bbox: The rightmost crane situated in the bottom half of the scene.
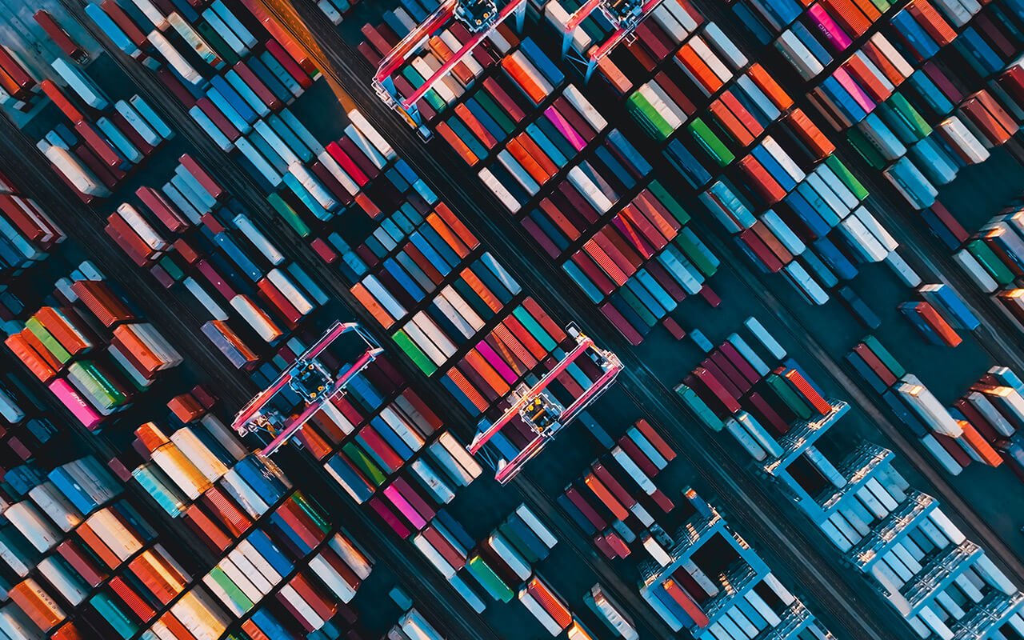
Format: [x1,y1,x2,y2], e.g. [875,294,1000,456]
[468,321,621,483]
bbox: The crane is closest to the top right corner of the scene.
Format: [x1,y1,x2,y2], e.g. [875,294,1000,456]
[557,0,662,89]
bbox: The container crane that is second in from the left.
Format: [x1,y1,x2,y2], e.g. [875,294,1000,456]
[372,0,525,139]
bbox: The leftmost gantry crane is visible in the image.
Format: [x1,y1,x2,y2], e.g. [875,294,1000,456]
[233,317,396,470]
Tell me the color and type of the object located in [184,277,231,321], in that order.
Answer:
blue shipping container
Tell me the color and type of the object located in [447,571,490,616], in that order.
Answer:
blue shipping container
